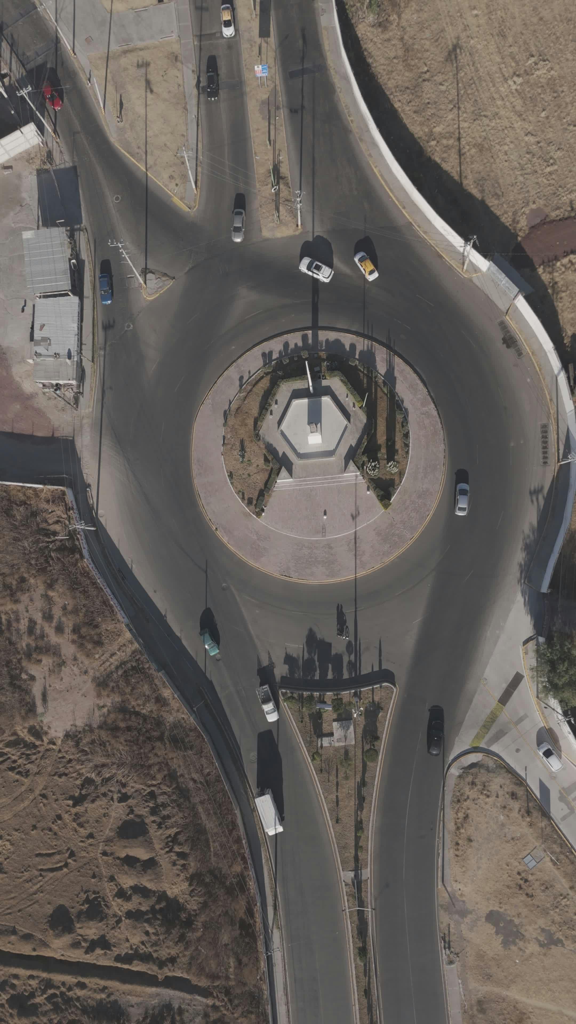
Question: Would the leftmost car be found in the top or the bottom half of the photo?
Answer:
top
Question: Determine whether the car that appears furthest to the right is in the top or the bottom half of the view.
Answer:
bottom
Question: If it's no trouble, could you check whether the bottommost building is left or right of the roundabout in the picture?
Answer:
on the left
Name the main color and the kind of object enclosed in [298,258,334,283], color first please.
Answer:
white car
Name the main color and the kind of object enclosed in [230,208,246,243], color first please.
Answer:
gray car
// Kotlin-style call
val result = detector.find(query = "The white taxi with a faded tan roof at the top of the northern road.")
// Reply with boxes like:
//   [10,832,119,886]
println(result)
[220,5,236,41]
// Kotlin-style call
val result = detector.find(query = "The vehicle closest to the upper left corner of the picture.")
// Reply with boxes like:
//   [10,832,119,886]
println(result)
[42,79,63,112]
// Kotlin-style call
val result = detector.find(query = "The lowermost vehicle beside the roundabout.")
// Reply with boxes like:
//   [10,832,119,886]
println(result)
[454,483,471,515]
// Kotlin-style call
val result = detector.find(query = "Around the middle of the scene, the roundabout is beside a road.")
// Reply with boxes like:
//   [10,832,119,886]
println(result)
[189,325,449,585]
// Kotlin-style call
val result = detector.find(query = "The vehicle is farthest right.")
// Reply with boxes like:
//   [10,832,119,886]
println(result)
[537,741,564,773]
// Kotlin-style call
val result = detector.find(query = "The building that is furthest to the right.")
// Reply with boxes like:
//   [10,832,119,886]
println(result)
[21,294,85,384]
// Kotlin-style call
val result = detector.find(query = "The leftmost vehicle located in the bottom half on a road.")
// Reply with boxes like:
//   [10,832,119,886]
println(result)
[199,626,220,656]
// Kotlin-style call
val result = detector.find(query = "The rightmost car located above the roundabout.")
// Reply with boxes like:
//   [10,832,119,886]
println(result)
[356,251,379,282]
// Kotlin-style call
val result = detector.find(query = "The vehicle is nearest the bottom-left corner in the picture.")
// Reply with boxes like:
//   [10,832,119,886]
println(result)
[255,784,284,834]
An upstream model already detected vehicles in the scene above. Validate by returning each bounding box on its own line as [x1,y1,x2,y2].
[230,208,246,243]
[98,273,114,306]
[220,5,236,41]
[356,251,379,282]
[42,79,63,112]
[298,258,334,283]
[454,483,471,515]
[199,626,220,656]
[255,784,284,834]
[257,684,279,722]
[537,741,564,773]
[205,69,220,102]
